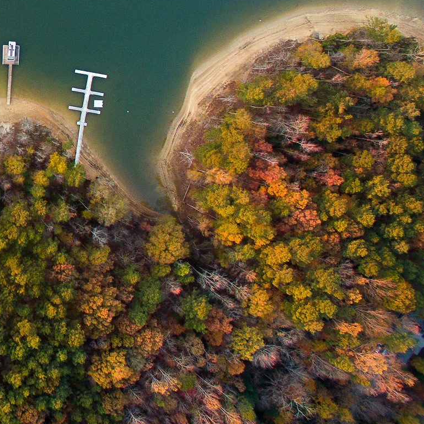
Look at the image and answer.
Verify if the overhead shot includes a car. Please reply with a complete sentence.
No, no car is visible in the scene.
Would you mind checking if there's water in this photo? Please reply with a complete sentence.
Yes, there is water in the image.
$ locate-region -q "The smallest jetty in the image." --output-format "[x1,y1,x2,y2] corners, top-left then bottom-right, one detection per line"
[2,45,20,105]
